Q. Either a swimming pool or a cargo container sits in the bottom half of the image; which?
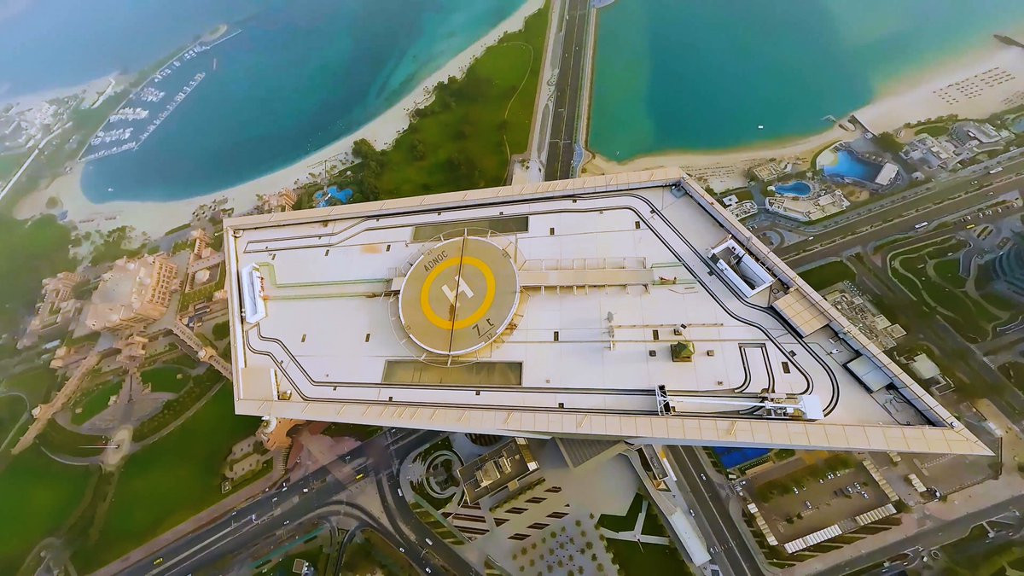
swimming pool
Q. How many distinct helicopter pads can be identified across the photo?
1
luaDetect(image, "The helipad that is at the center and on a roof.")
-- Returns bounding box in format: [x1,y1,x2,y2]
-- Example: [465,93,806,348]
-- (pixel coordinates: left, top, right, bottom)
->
[382,231,654,369]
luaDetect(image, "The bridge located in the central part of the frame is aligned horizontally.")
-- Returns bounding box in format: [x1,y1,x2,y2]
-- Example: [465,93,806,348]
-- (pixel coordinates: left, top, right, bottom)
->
[517,266,654,293]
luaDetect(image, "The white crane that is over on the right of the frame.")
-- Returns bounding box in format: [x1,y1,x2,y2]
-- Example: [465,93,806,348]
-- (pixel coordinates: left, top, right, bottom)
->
[654,384,824,419]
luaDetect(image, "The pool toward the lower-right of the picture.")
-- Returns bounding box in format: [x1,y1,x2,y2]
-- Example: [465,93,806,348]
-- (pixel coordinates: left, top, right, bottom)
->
[716,448,777,470]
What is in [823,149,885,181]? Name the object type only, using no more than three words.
swimming pool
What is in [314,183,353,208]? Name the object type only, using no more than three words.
swimming pool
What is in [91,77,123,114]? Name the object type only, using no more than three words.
building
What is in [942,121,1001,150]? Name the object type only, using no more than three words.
house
